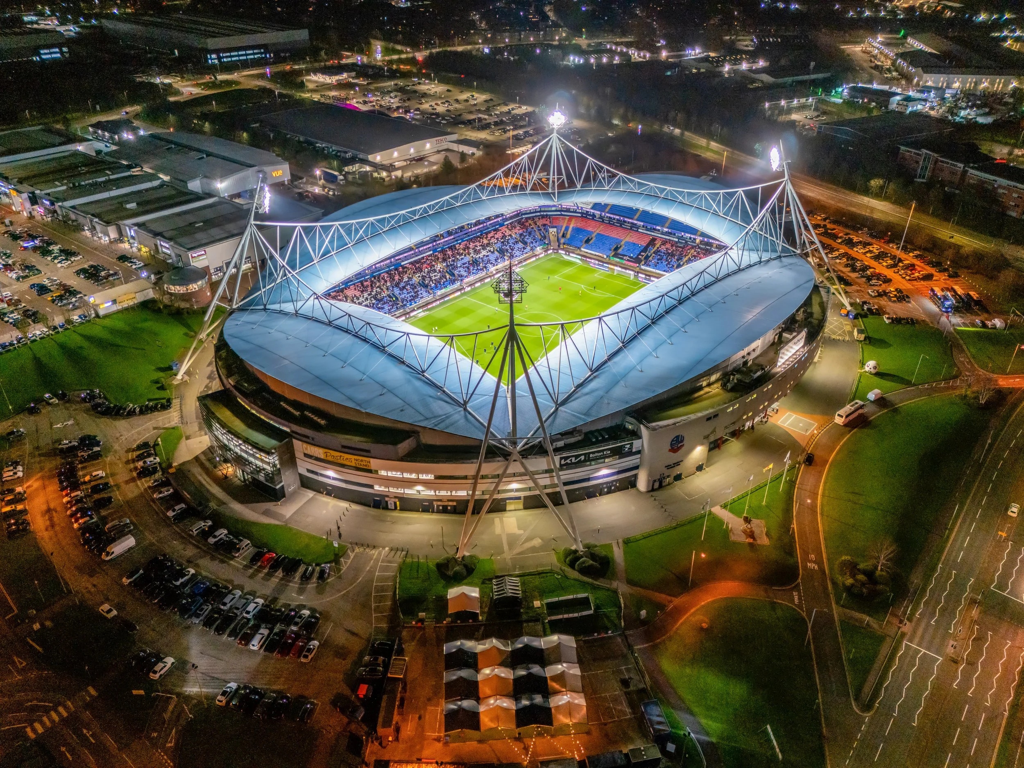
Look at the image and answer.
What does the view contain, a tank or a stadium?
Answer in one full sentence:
This aerial view contains a stadium.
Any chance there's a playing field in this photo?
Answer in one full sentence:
Yes, there is a playing field in the image.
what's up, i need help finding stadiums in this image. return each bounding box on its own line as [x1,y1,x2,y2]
[196,134,828,516]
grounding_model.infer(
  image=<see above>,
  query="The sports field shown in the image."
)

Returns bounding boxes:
[405,251,648,382]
